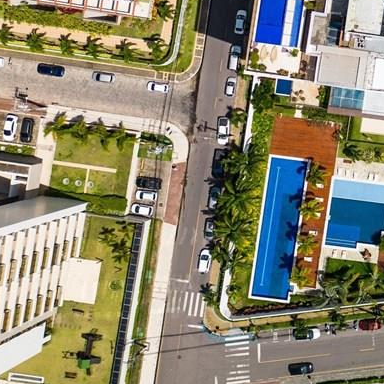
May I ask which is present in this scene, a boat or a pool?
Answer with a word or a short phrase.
pool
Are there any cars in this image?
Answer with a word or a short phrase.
Yes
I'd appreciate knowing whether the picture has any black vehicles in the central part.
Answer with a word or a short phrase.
Yes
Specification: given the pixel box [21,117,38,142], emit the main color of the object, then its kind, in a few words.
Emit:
black car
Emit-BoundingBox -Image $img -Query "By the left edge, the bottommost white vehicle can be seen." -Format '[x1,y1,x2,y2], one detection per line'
[4,113,21,141]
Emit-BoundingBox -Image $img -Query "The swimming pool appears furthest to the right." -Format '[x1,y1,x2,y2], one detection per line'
[322,177,384,249]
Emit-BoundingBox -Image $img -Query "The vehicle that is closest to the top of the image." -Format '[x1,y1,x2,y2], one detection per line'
[234,9,249,36]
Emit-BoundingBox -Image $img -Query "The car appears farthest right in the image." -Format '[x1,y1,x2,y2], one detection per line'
[358,317,384,332]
